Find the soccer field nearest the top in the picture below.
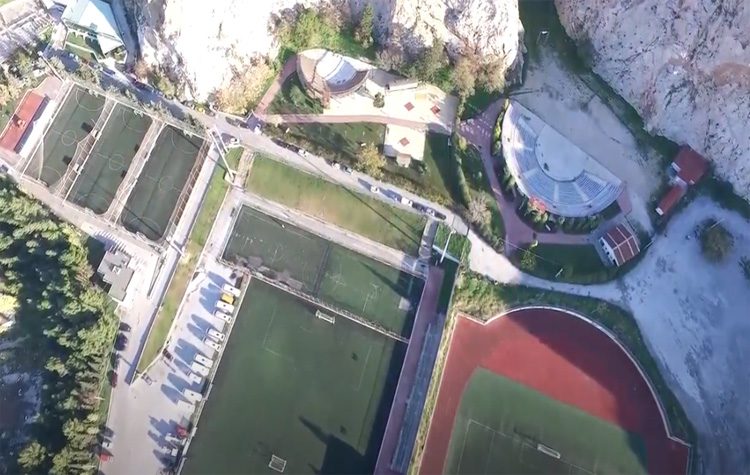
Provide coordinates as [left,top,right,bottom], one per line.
[222,206,420,340]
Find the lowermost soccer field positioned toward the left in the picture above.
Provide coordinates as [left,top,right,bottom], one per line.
[179,277,406,475]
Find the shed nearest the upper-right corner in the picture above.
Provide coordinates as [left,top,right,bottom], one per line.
[669,144,710,187]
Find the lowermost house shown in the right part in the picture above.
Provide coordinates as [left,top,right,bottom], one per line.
[605,225,645,269]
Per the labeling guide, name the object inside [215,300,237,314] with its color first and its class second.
white vehicle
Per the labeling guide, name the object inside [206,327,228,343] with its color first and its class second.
white vehicle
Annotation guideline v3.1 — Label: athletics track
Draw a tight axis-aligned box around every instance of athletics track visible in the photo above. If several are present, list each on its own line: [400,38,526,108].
[420,307,689,475]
